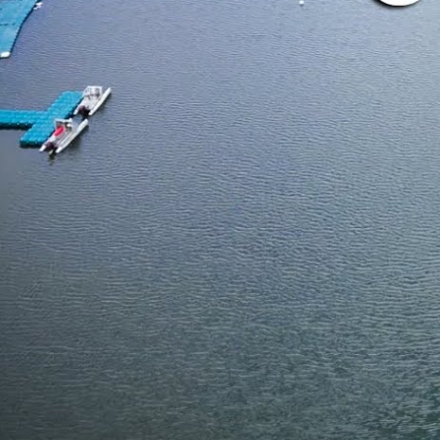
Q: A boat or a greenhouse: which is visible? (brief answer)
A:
boat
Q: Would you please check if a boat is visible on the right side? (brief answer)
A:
No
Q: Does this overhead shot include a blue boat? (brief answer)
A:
No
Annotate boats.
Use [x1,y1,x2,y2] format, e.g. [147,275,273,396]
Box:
[70,80,111,119]
[38,116,88,156]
